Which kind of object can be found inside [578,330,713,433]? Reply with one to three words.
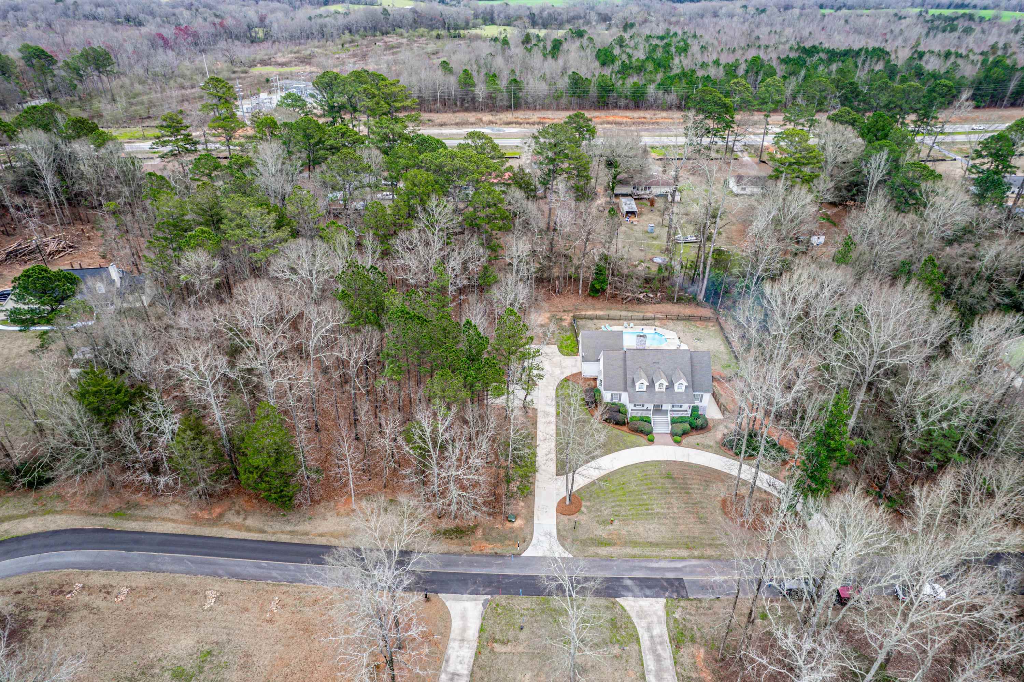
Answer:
house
